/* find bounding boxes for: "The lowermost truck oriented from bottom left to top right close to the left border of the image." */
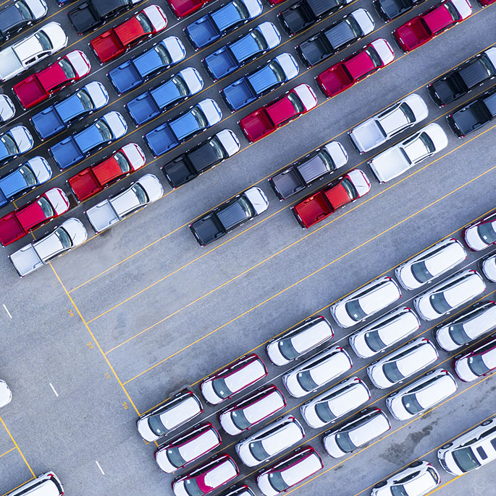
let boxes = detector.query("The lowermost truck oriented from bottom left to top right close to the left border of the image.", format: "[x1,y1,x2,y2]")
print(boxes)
[8,222,84,278]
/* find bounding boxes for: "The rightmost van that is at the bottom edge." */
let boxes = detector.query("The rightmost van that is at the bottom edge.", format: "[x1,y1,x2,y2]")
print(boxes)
[438,416,496,473]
